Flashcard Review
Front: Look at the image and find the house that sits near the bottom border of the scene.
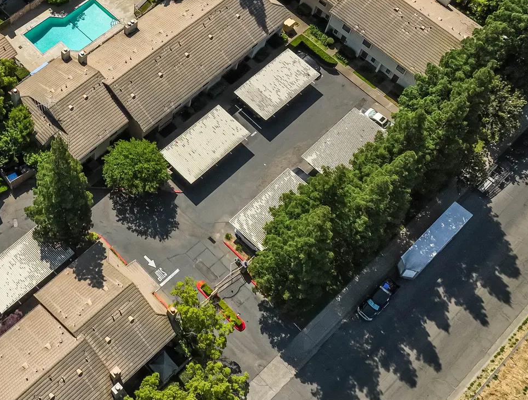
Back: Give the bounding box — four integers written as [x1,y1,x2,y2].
[0,240,182,400]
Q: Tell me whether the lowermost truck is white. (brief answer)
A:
No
